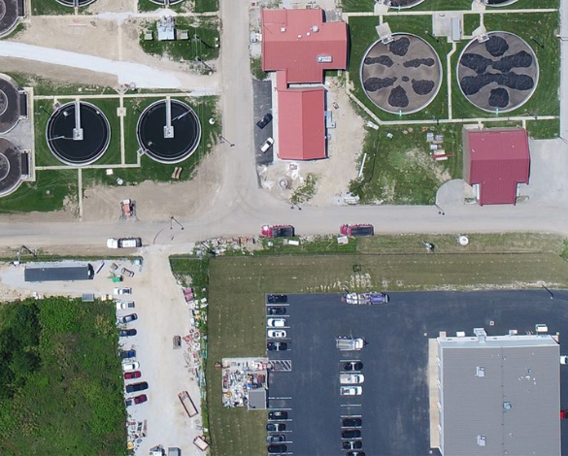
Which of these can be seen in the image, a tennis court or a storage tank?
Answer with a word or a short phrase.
storage tank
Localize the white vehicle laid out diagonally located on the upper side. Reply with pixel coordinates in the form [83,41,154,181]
[259,136,275,153]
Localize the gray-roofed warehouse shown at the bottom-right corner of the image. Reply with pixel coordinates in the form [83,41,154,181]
[438,335,564,456]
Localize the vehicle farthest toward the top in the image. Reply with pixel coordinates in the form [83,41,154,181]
[255,113,273,130]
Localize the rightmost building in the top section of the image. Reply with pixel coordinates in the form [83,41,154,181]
[465,126,531,206]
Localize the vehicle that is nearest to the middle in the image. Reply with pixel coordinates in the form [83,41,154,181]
[263,225,295,238]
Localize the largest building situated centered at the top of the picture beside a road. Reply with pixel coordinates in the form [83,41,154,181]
[261,8,349,84]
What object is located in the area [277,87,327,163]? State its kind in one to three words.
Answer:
building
